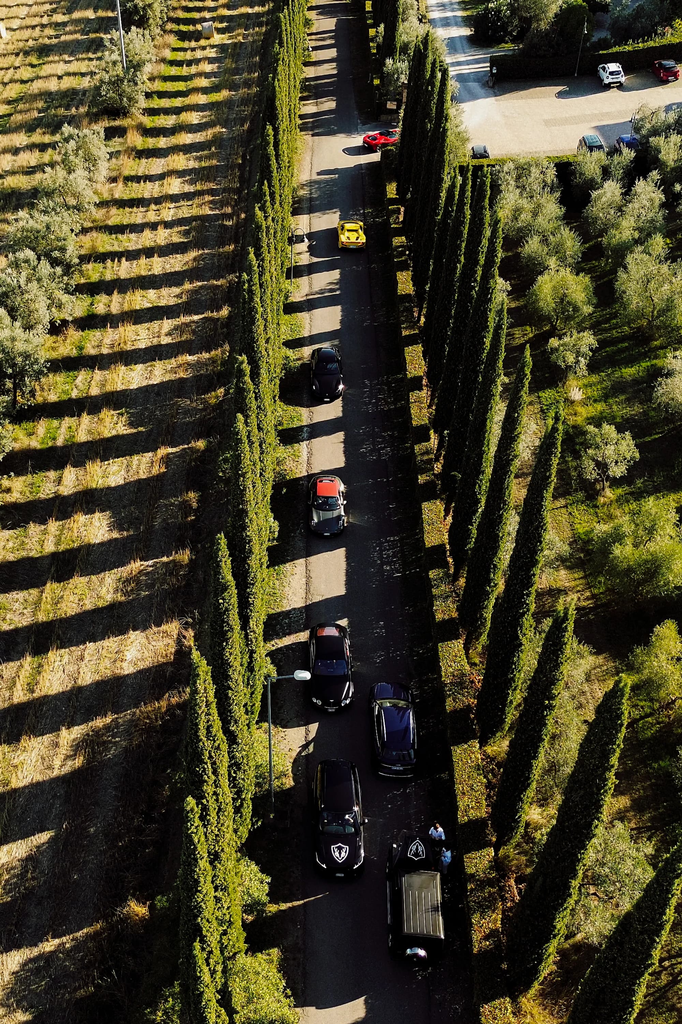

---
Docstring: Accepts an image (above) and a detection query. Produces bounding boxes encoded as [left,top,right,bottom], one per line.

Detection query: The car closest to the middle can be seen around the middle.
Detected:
[307,474,346,537]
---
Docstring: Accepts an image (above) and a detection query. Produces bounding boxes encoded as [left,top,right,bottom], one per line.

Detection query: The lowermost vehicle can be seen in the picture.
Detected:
[383,835,446,965]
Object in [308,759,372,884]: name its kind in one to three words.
car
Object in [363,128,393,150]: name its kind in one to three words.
car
